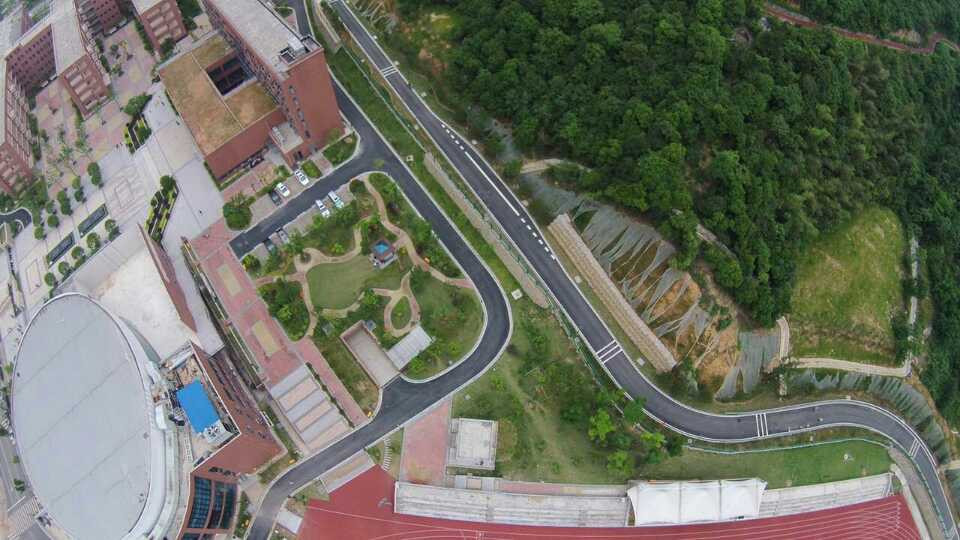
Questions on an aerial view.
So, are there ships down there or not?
No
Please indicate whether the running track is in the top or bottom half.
bottom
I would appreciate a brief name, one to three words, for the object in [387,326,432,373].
shed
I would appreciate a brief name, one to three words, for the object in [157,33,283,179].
building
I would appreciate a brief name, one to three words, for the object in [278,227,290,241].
vehicle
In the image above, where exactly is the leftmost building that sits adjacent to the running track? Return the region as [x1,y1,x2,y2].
[9,291,180,540]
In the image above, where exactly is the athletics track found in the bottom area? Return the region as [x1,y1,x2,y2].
[301,465,920,540]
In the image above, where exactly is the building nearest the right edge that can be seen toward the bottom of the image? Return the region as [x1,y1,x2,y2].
[446,416,500,490]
